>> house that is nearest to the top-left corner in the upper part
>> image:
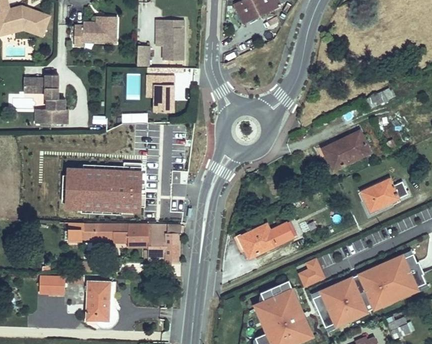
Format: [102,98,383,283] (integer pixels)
[0,0,52,38]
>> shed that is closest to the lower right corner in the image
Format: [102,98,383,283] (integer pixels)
[388,316,415,339]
